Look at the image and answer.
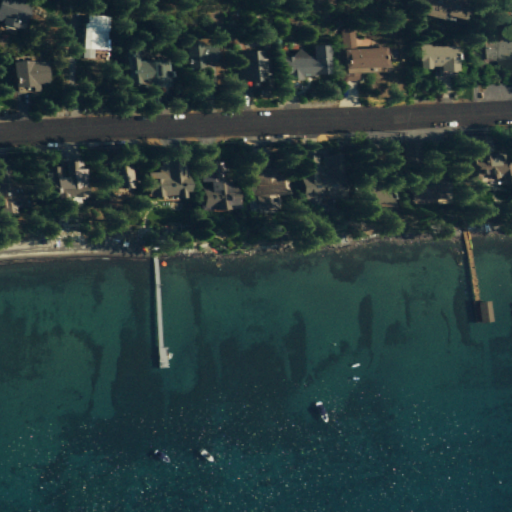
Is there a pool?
No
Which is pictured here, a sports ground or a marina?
marina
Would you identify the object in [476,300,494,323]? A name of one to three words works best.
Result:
building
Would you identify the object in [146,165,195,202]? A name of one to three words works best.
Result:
house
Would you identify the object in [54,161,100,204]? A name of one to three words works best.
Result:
house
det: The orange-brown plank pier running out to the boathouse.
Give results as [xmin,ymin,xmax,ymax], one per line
[462,233,478,302]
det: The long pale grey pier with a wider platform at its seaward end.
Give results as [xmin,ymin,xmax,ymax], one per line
[152,255,170,367]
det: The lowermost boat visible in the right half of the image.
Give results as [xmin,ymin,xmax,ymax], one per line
[315,401,328,422]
